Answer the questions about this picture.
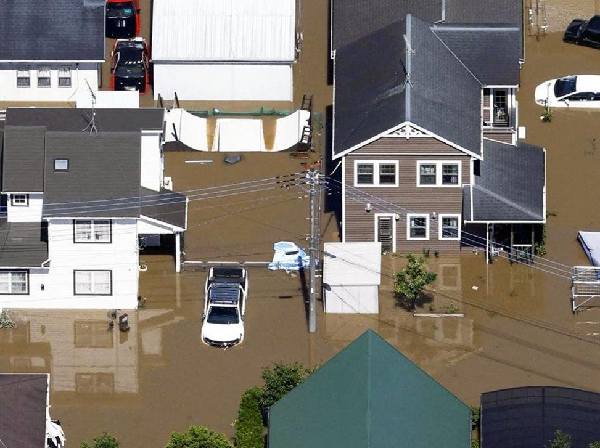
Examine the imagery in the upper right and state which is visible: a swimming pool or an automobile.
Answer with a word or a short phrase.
automobile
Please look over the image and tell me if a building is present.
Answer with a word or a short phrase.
Yes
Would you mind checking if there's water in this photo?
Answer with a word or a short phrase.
Yes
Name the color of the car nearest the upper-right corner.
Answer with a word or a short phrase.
black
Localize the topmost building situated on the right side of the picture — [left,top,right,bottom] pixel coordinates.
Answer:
[328,0,547,263]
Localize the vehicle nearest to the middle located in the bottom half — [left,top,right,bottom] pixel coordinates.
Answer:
[200,267,250,348]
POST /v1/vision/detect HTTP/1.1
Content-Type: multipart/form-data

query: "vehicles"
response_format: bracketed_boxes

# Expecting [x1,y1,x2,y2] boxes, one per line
[109,31,153,96]
[529,70,600,107]
[105,0,145,36]
[558,7,600,45]
[200,267,250,348]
